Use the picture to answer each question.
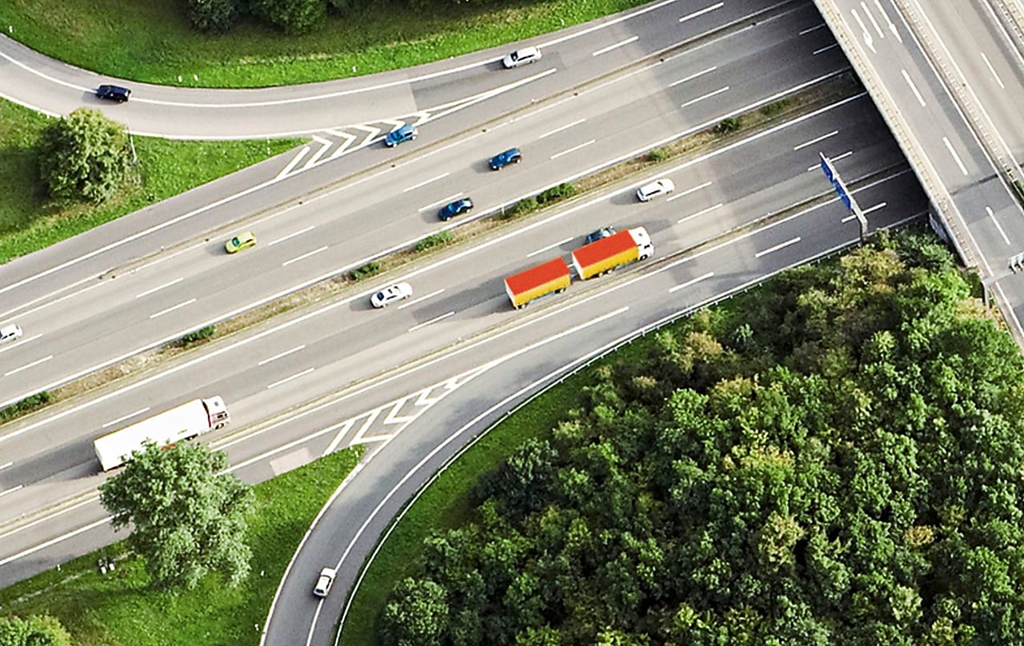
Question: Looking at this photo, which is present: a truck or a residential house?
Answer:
truck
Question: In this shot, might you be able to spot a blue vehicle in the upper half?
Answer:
Yes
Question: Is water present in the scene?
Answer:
No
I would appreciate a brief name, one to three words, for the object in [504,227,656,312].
truck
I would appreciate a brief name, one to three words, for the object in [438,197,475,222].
car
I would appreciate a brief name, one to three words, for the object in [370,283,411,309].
car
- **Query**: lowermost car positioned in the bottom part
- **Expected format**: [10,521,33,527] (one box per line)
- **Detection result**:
[311,568,337,600]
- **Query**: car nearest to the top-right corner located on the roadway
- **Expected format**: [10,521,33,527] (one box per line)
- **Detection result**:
[637,179,675,202]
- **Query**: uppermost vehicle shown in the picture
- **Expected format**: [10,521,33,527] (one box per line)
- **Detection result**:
[503,45,541,68]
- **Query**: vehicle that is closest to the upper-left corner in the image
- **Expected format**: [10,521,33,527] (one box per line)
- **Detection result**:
[96,84,132,104]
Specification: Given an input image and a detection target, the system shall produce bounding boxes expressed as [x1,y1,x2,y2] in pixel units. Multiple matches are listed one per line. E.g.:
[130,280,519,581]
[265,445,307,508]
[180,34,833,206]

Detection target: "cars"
[96,84,132,104]
[438,197,475,222]
[503,45,541,68]
[385,123,418,147]
[311,568,337,600]
[488,147,522,171]
[583,224,620,245]
[370,283,411,309]
[224,230,258,254]
[637,179,675,202]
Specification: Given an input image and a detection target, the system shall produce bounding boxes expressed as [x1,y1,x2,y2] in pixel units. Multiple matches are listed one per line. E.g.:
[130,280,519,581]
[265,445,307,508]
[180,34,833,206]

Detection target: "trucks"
[504,227,656,312]
[94,396,230,472]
